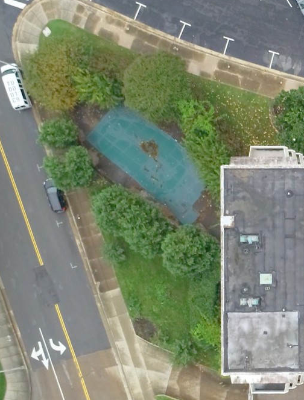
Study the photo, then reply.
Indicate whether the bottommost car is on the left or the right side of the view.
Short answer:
left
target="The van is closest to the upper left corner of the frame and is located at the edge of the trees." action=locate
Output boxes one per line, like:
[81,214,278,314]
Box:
[0,64,31,112]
